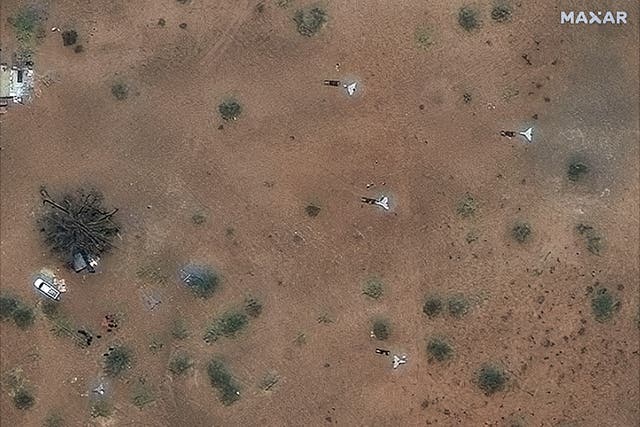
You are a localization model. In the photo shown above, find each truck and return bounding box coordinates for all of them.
[34,280,60,301]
